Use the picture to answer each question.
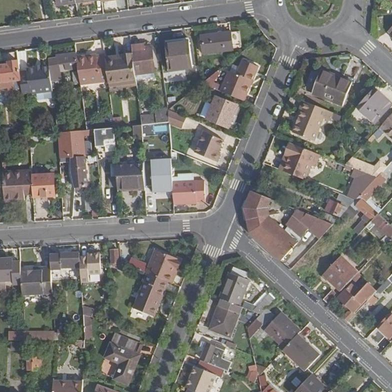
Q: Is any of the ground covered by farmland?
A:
No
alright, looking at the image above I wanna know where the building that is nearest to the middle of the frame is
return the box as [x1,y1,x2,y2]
[173,173,206,208]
